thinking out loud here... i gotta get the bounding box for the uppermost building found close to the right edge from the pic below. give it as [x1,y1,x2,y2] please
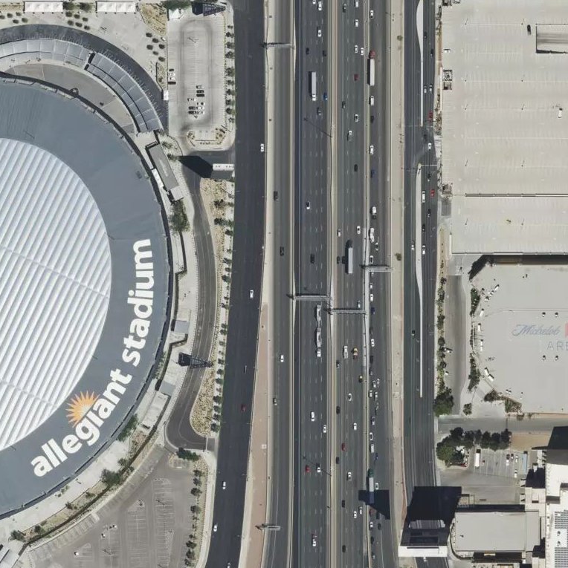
[441,0,568,196]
